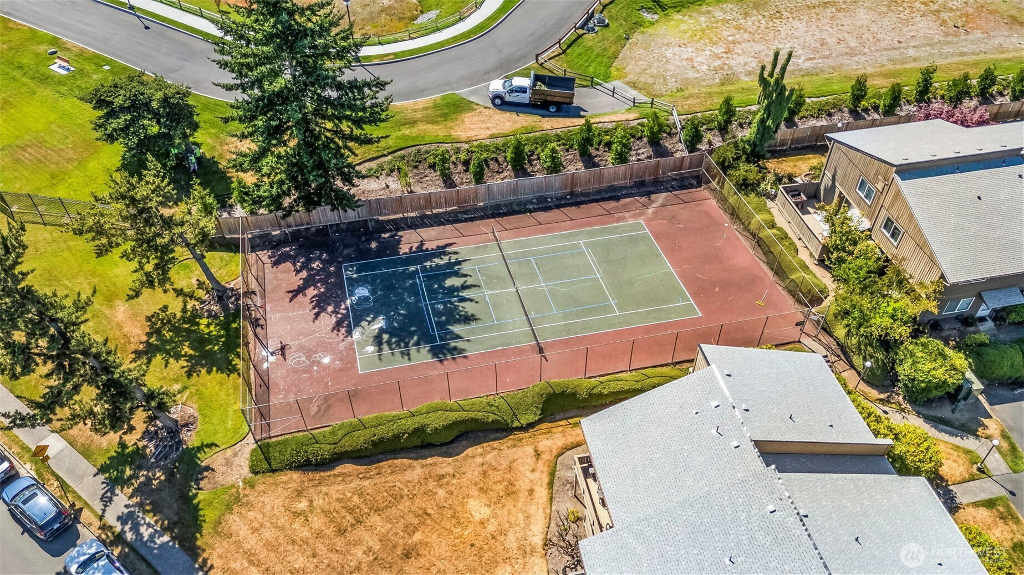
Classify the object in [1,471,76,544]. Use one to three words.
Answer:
car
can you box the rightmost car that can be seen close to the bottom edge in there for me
[67,538,135,575]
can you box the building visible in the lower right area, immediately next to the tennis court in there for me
[569,344,992,575]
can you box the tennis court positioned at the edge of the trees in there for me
[250,182,814,443]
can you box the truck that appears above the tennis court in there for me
[486,71,580,114]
